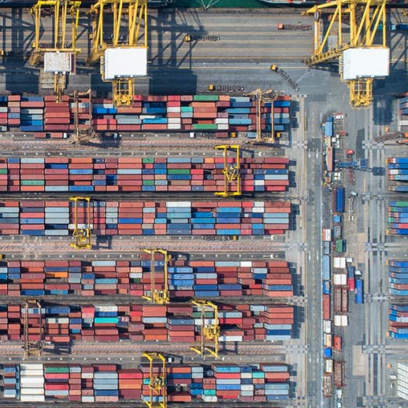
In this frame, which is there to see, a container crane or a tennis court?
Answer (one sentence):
There is a container crane in the scene.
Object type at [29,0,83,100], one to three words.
container crane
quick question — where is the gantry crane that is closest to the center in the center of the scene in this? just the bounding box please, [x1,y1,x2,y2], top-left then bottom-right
[211,144,242,197]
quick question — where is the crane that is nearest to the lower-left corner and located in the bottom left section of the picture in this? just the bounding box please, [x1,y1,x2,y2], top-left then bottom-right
[21,297,45,357]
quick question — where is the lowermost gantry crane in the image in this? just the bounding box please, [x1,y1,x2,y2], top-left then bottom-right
[139,352,167,408]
